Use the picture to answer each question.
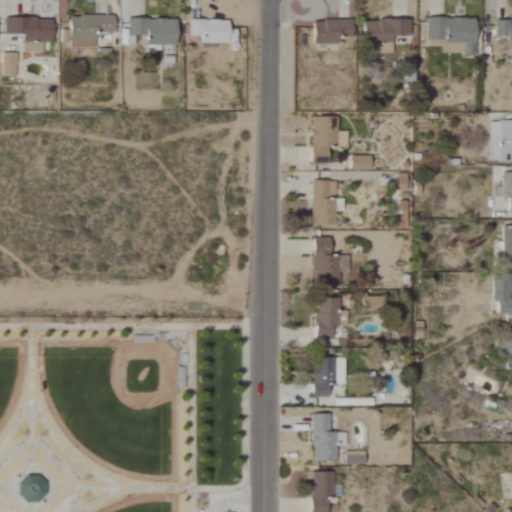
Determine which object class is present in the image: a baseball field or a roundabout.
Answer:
baseball field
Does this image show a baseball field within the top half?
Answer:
No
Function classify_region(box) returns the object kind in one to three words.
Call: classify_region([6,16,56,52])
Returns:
house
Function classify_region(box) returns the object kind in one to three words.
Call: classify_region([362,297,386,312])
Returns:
shed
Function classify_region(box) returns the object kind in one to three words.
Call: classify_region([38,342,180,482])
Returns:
baseball field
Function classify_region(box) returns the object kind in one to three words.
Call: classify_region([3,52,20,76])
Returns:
shed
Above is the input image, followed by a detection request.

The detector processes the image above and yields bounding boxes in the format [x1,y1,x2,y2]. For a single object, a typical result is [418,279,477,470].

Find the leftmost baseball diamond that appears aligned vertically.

[0,342,24,430]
